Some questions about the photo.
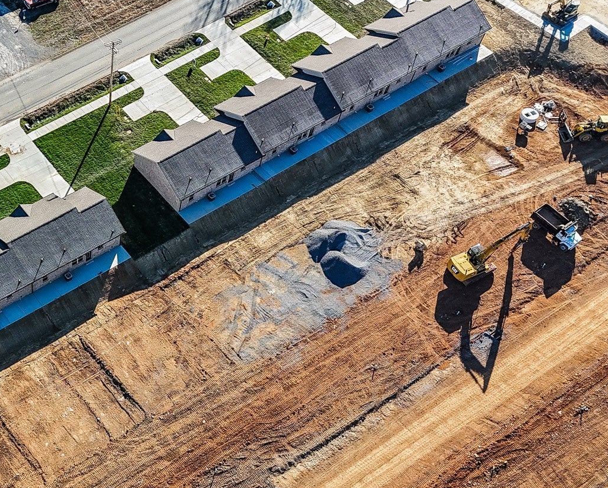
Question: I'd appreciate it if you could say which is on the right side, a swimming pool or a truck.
truck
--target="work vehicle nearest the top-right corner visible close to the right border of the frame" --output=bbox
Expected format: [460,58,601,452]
[539,0,578,25]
